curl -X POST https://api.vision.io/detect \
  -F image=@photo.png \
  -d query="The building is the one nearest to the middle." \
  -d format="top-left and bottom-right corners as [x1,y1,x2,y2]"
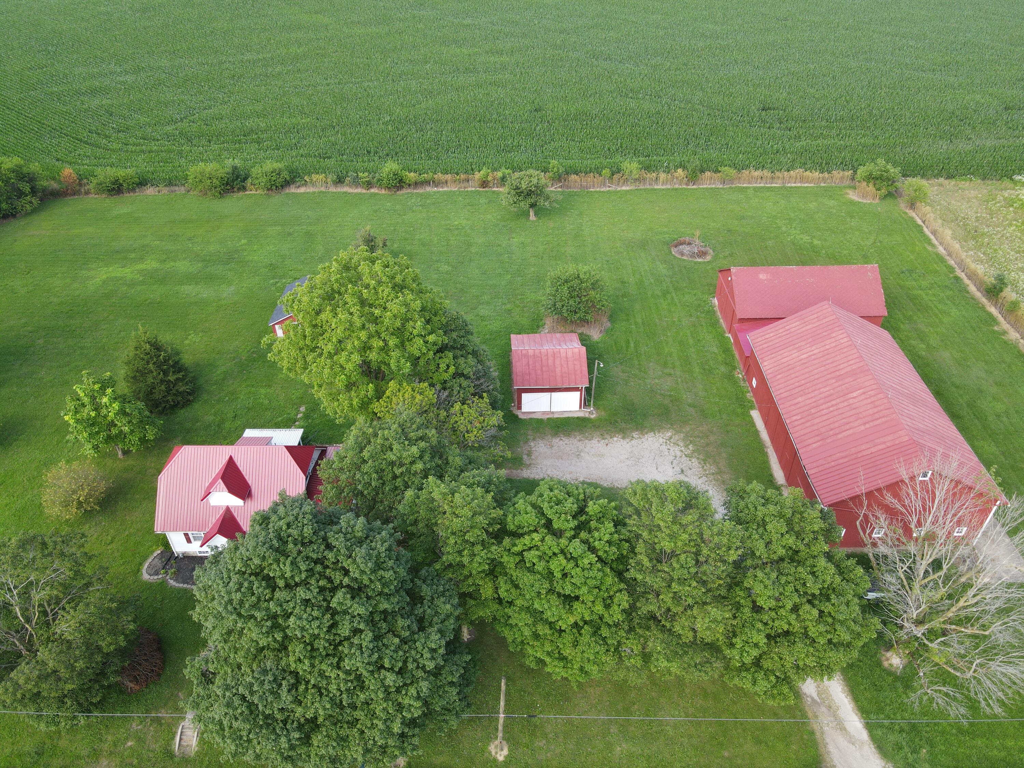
[510,333,594,410]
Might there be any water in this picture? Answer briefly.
No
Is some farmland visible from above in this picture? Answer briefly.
Yes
